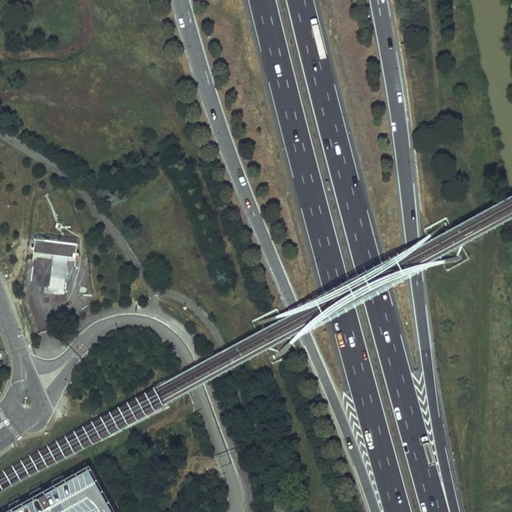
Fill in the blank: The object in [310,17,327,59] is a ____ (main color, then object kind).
white vehicle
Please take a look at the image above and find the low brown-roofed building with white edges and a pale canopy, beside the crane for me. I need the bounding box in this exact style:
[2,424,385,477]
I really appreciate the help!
[32,238,78,294]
